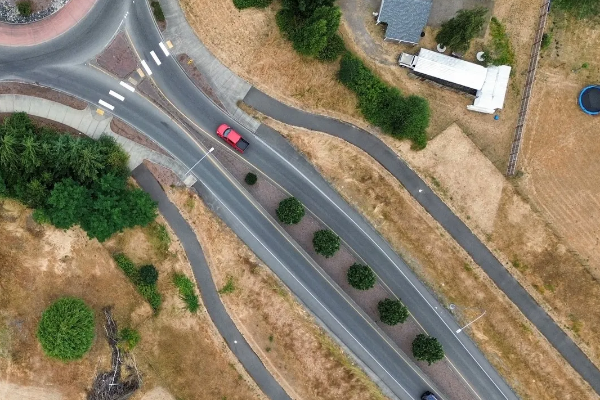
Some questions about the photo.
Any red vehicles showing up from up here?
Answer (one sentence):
Yes, the frame does contain a red vehicle.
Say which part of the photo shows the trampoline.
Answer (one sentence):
The trampoline is in the top right part of the image.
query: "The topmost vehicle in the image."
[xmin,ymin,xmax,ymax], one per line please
[398,53,418,69]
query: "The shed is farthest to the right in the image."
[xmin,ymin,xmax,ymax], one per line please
[468,66,511,111]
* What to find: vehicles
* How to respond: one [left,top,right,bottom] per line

[398,53,418,69]
[217,124,250,152]
[420,389,439,400]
